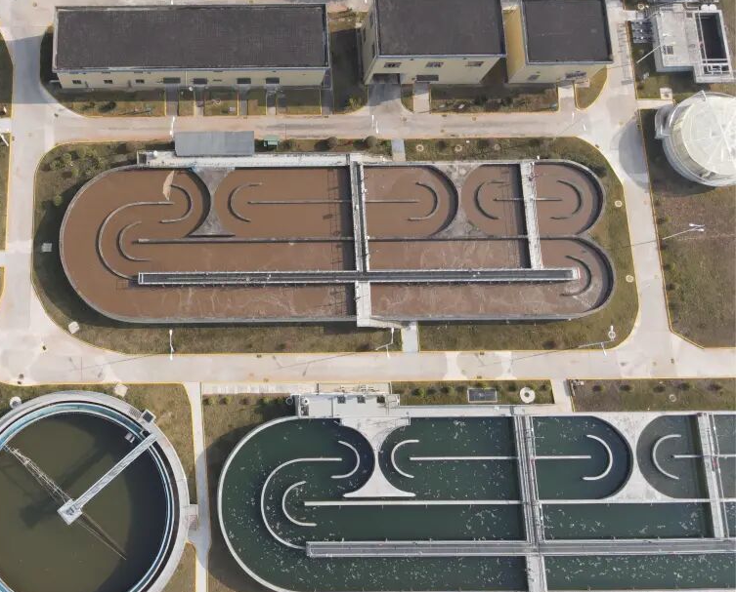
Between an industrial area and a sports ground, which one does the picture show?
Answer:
industrial area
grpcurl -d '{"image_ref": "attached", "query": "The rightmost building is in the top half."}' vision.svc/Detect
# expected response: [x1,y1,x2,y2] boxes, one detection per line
[505,0,612,94]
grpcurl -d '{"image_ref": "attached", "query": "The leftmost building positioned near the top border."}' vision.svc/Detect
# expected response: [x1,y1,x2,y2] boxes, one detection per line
[54,2,334,103]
